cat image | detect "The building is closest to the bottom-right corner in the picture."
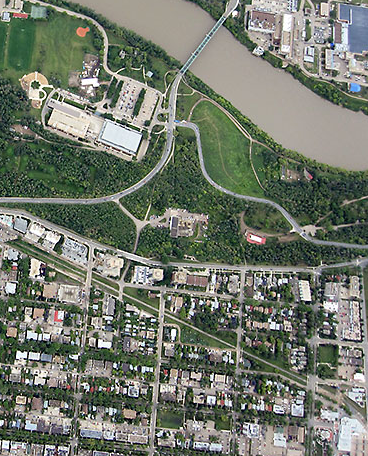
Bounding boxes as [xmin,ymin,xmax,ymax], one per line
[337,419,366,451]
